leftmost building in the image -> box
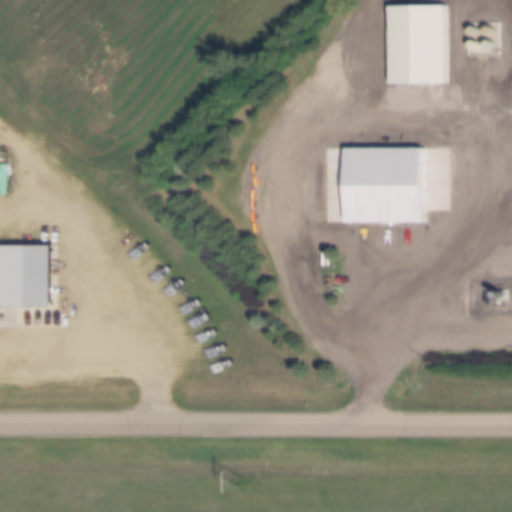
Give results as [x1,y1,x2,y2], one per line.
[0,245,52,306]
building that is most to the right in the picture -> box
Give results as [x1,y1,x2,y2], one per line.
[388,4,448,82]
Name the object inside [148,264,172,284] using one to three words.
vehicle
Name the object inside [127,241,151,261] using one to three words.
vehicle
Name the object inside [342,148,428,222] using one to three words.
building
